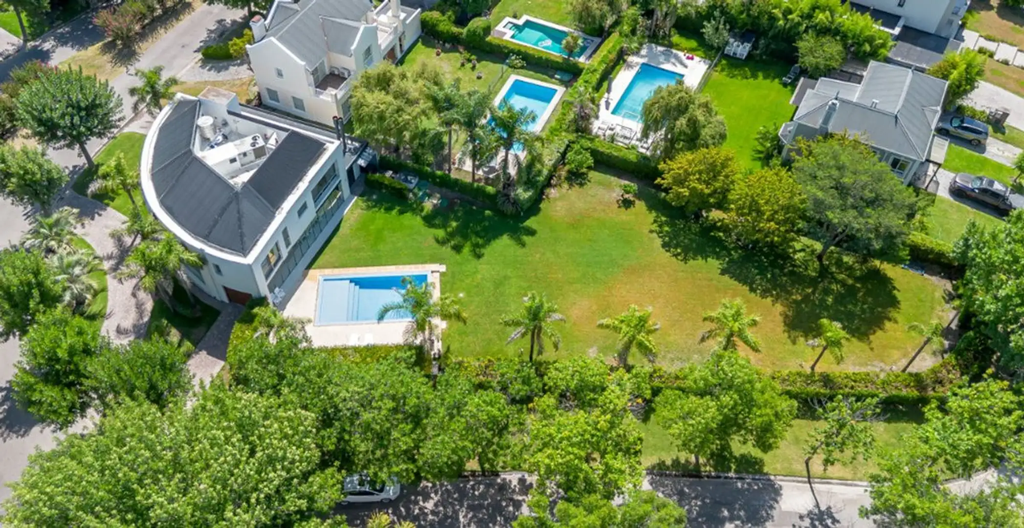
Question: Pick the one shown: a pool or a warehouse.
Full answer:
The one in the frame is a pool.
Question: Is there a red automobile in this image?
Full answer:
No, no red automobile can be seen from above.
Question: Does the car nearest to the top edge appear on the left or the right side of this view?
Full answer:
It is on the right.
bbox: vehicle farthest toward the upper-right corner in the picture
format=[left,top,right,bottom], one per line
[936,115,993,147]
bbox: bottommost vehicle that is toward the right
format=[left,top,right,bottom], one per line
[953,175,1022,211]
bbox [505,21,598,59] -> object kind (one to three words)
swimming pool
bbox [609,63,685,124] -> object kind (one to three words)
swimming pool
